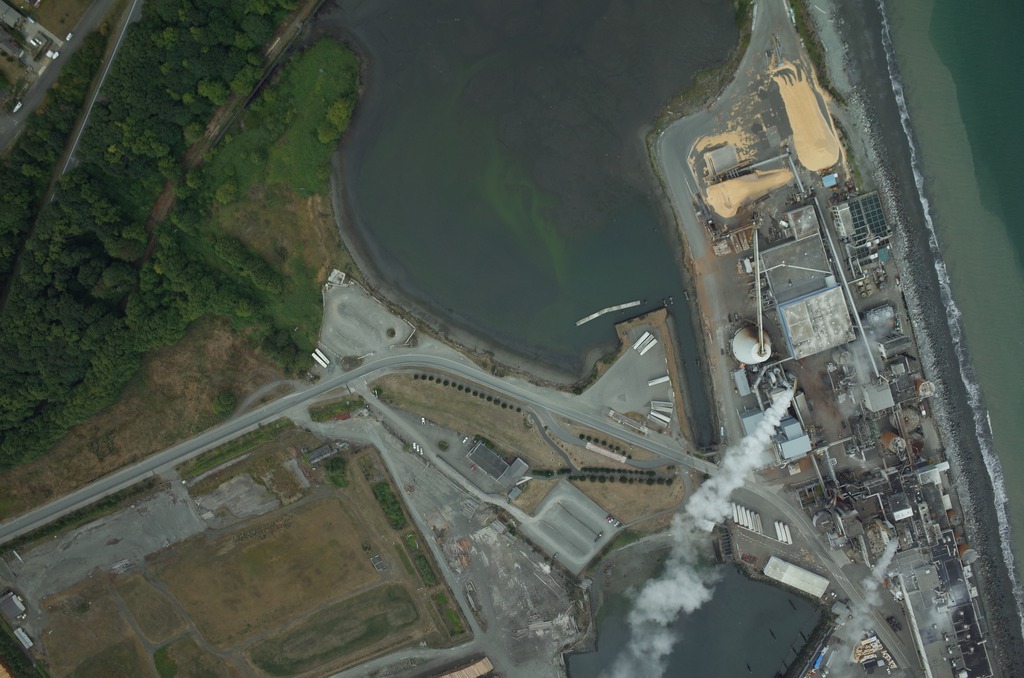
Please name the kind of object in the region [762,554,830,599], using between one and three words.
building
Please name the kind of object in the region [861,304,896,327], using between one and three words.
cooling tower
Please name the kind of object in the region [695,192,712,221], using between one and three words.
vehicle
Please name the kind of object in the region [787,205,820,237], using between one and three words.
building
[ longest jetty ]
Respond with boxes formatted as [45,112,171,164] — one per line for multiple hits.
[576,300,641,327]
